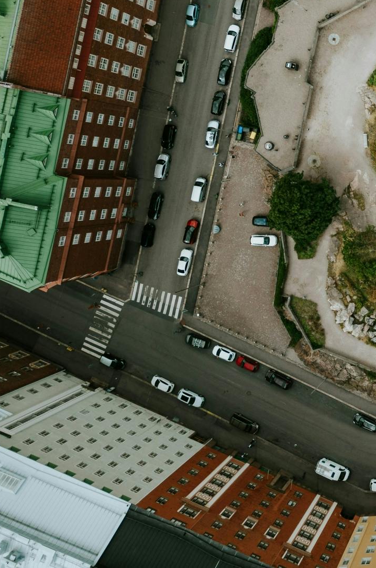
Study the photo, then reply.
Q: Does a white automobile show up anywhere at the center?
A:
Yes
